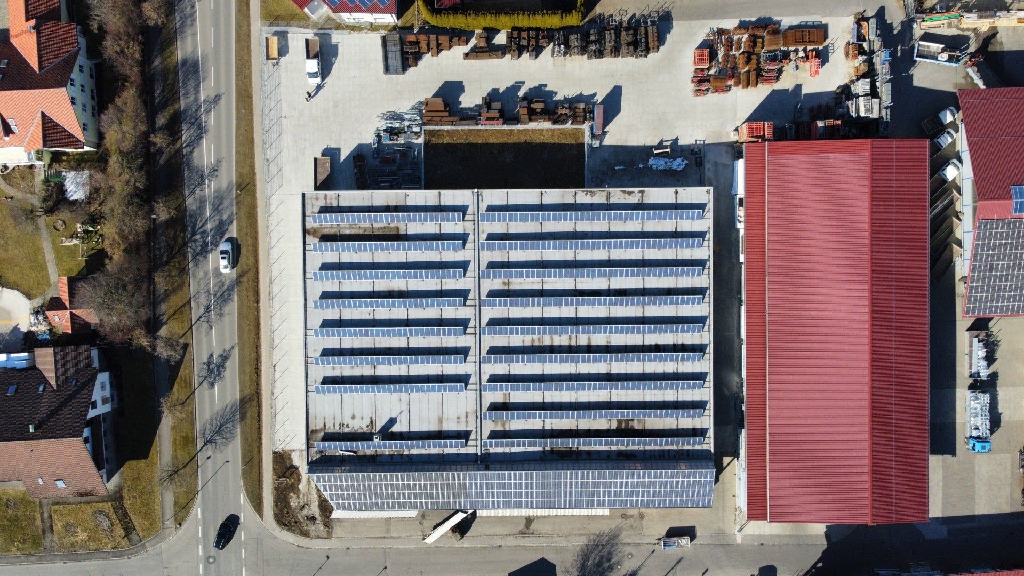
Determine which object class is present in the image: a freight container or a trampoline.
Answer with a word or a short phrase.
freight container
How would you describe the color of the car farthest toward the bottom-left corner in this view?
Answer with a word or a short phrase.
black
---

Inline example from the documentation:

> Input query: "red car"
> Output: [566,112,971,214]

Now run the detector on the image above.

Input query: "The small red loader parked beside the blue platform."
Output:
[962,46,998,72]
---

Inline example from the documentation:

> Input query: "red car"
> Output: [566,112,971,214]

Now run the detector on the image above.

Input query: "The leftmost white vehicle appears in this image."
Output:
[217,242,232,273]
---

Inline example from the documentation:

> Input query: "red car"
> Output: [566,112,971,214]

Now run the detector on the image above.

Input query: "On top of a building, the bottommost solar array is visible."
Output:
[314,471,714,510]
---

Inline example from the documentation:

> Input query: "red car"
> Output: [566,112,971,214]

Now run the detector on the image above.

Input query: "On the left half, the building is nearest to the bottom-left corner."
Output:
[0,345,126,499]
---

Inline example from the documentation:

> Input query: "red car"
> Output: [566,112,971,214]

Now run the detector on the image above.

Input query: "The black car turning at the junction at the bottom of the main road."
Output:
[214,518,236,551]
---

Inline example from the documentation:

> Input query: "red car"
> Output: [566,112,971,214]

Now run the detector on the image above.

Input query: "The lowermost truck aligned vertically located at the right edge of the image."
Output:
[965,391,995,453]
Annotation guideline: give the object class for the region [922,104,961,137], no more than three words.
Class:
truck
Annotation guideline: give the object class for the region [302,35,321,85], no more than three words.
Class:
vehicle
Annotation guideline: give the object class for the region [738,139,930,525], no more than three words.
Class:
building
